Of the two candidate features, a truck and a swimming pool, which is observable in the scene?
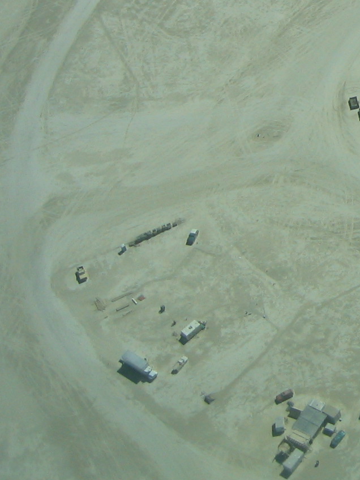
truck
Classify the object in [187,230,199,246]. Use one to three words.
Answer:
vehicle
